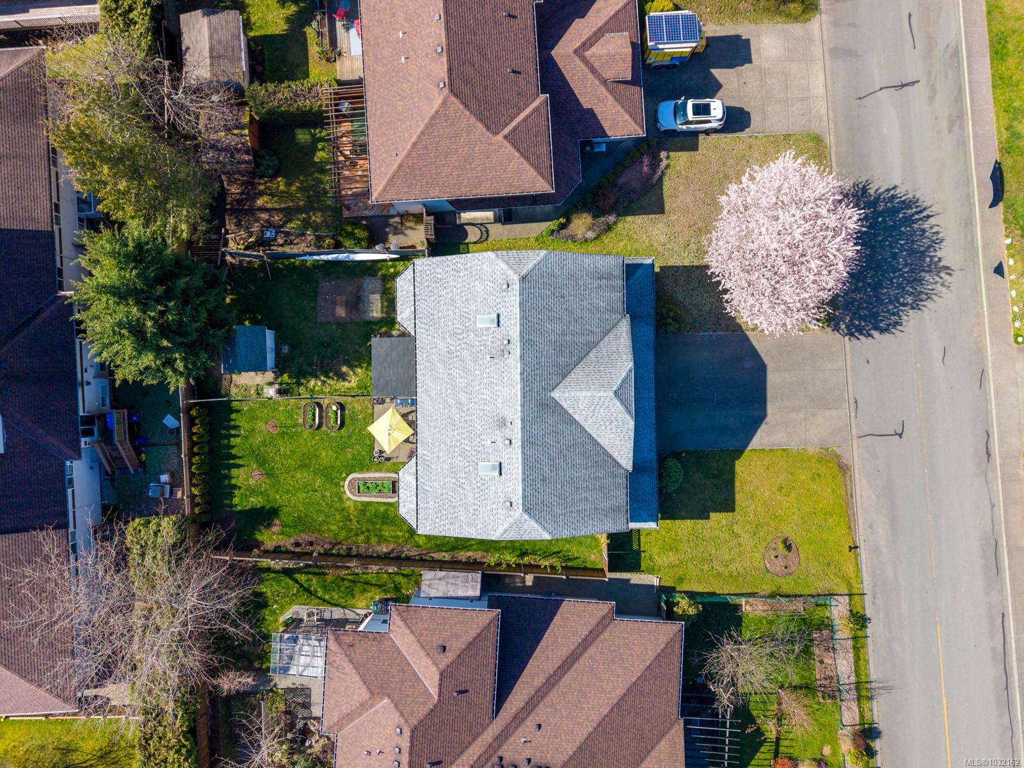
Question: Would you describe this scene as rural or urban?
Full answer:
The land in this view is best described as urban.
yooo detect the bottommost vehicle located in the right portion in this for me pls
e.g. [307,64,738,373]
[655,96,728,136]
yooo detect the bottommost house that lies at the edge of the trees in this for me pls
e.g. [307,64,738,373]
[318,588,686,768]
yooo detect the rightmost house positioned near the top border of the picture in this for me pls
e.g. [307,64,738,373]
[357,0,648,215]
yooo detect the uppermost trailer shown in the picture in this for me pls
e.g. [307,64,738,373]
[642,10,711,68]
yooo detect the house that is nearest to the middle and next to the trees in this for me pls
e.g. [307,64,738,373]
[394,248,661,541]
